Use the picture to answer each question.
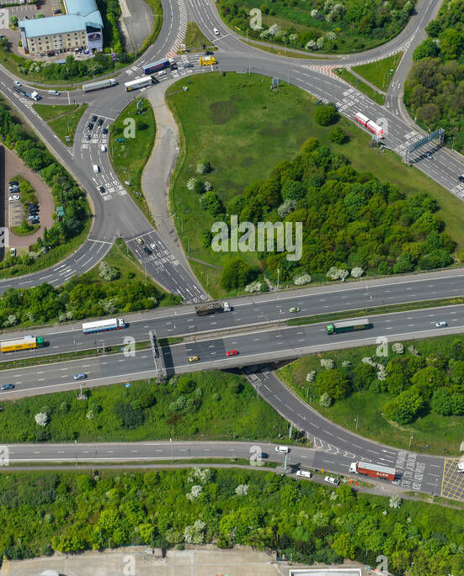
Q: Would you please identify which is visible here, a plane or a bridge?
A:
bridge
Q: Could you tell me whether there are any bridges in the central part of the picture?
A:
Yes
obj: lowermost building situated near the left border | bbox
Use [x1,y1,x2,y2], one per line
[17,11,105,55]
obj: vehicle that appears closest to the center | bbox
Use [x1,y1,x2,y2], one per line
[195,303,232,316]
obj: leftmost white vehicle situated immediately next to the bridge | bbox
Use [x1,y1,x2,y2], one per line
[82,318,125,333]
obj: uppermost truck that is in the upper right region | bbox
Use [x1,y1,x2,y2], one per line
[353,112,386,138]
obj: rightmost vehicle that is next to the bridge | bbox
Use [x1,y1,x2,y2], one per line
[327,320,369,334]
